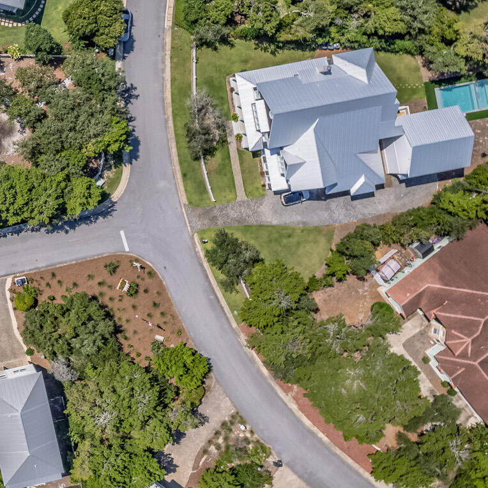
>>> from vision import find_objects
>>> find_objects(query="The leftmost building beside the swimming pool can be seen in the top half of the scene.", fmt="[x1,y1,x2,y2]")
[224,48,415,195]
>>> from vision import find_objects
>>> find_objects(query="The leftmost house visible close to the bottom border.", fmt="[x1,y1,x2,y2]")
[0,355,67,488]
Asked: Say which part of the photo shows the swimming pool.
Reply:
top right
